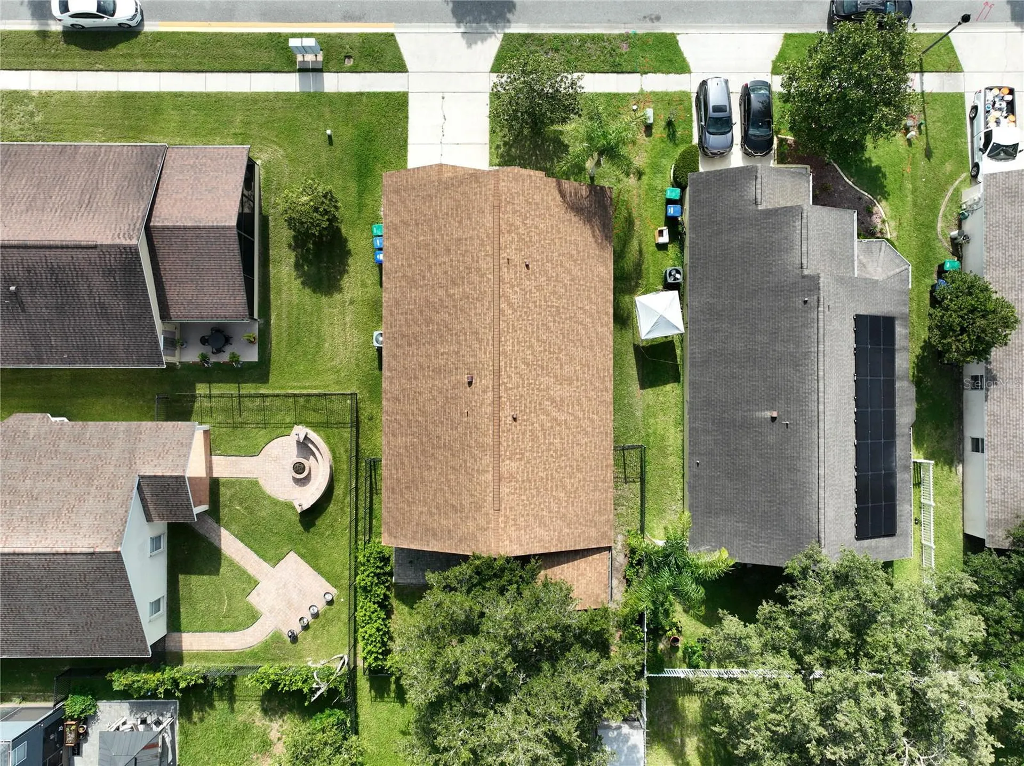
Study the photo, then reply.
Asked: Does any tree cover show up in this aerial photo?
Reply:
Yes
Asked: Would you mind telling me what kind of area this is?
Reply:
residential area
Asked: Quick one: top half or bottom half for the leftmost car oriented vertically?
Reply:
top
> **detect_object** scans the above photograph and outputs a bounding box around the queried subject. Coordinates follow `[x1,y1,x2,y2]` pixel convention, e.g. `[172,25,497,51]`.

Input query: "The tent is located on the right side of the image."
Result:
[630,286,684,365]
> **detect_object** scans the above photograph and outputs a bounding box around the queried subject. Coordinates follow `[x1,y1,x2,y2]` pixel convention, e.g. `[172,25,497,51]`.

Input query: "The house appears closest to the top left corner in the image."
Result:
[0,141,260,369]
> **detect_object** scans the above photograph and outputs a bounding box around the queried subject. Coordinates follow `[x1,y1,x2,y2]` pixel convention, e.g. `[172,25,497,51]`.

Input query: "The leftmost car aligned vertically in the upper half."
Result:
[696,78,735,160]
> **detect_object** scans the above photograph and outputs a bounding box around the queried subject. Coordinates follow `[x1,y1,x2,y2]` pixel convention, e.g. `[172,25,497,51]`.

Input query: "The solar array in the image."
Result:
[854,314,897,539]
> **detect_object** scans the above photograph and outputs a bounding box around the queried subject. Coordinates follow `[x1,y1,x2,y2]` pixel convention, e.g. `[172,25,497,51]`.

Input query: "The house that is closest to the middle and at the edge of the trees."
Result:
[383,164,613,613]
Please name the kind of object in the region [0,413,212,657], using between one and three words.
house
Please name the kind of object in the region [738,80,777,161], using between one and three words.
car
